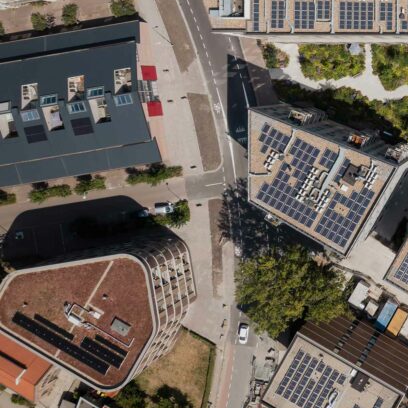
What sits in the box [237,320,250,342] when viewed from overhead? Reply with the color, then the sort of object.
white vehicle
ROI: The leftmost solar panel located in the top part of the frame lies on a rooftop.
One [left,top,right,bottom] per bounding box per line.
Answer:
[24,125,47,143]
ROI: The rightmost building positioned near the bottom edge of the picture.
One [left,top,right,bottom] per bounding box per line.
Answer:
[262,299,408,408]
